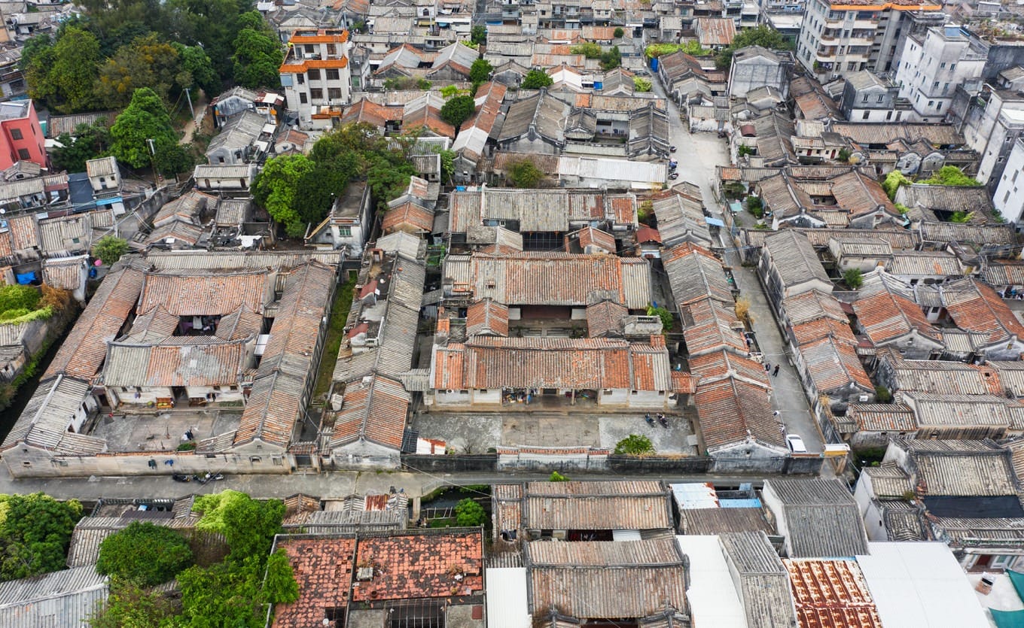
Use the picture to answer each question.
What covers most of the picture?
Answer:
buildings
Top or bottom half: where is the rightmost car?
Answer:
bottom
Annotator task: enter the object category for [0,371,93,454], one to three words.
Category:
house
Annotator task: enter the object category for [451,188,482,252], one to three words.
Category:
building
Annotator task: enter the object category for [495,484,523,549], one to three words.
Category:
house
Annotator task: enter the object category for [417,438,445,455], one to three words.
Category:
shed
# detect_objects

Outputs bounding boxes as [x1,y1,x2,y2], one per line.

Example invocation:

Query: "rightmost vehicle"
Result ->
[785,430,811,455]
